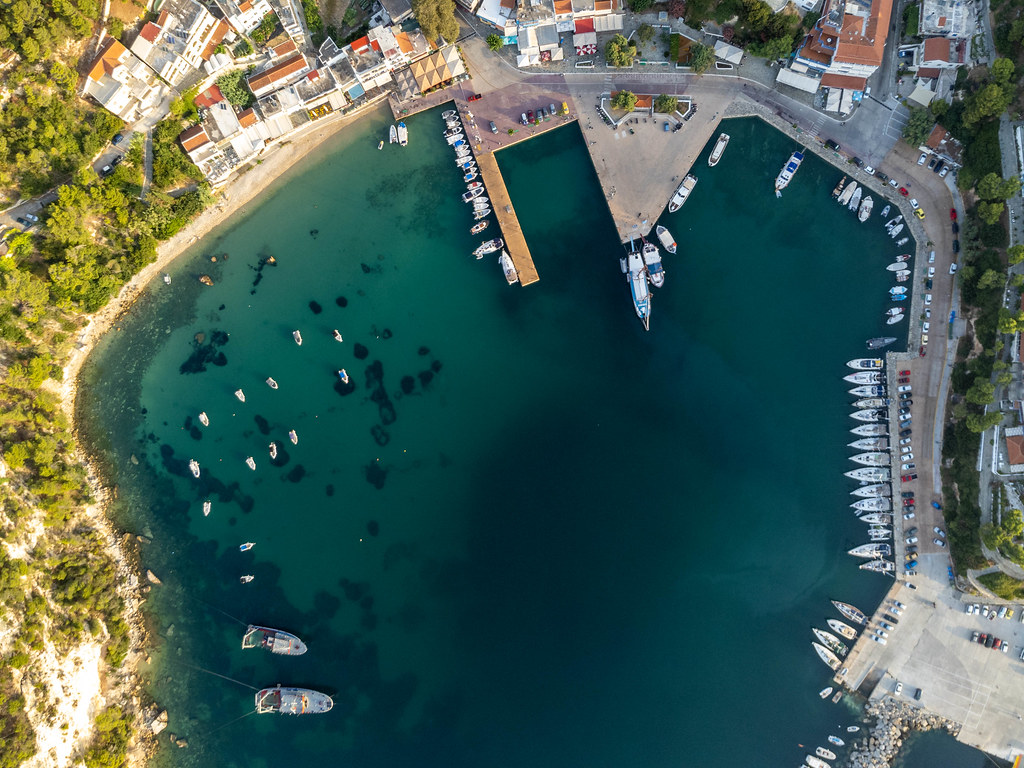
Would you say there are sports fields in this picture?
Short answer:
No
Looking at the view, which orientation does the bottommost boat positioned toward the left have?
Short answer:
horizontally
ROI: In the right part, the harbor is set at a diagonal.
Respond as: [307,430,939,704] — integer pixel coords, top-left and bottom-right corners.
[388,43,1024,763]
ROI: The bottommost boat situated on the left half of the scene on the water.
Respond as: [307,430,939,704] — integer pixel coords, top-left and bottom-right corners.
[256,686,333,716]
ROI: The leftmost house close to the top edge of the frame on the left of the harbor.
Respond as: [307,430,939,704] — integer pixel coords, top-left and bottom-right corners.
[82,32,178,126]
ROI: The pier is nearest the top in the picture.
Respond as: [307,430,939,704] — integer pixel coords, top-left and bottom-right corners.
[476,151,539,286]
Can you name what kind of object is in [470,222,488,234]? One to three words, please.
boat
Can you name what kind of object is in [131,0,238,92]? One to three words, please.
building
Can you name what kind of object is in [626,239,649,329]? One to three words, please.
ship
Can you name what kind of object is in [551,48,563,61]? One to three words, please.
umbrella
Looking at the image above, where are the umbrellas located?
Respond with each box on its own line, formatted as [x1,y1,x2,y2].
[551,48,563,61]
[529,55,541,67]
[517,55,529,67]
[576,46,587,56]
[852,91,862,103]
[586,44,597,55]
[540,50,551,61]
